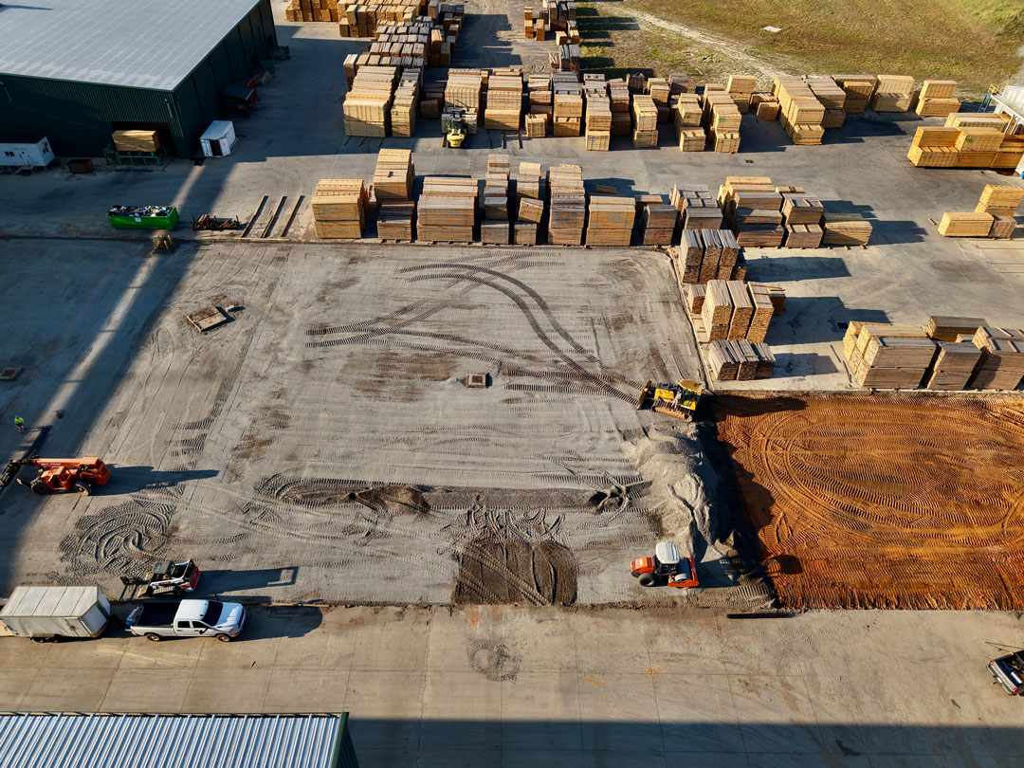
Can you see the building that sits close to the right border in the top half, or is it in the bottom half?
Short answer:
top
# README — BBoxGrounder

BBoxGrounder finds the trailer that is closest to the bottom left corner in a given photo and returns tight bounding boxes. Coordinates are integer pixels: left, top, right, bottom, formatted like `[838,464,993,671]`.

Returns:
[0,577,127,639]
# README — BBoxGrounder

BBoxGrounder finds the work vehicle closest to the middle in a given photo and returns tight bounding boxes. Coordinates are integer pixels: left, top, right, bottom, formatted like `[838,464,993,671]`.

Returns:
[637,378,706,426]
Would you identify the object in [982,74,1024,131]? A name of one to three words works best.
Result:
building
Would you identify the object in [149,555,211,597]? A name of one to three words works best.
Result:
work vehicle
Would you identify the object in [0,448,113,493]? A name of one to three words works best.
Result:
work vehicle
